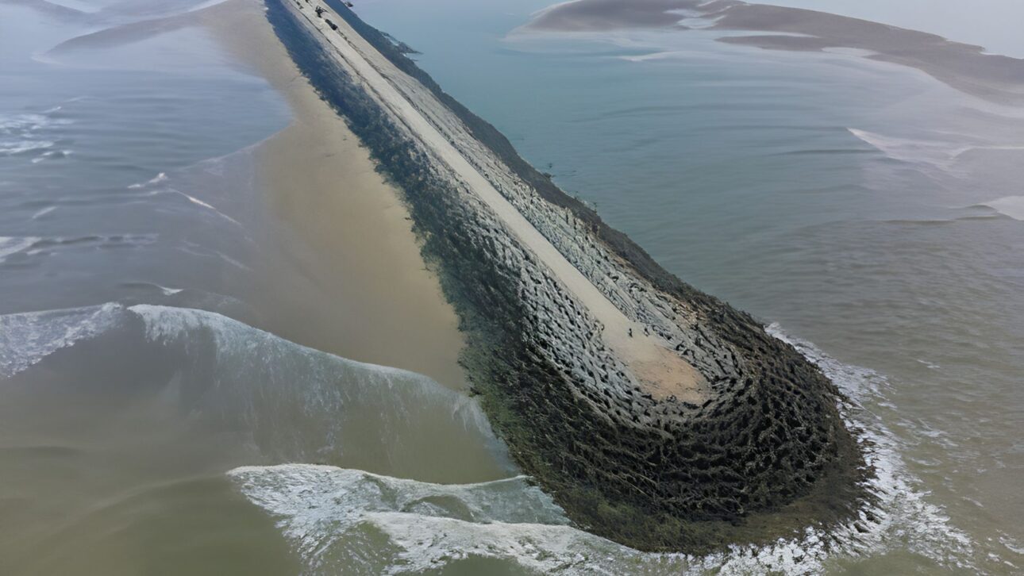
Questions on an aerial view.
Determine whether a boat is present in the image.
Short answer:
No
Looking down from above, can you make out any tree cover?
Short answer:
No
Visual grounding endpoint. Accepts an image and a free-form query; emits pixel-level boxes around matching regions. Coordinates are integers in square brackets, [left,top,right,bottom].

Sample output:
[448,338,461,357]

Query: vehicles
[296,0,303,7]
[328,22,336,30]
[314,7,330,18]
